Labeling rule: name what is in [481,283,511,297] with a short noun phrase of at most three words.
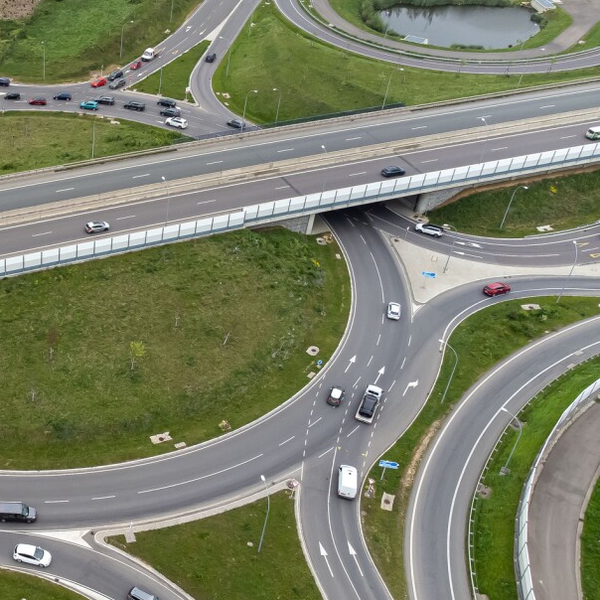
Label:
car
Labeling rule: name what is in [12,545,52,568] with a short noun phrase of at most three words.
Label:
car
